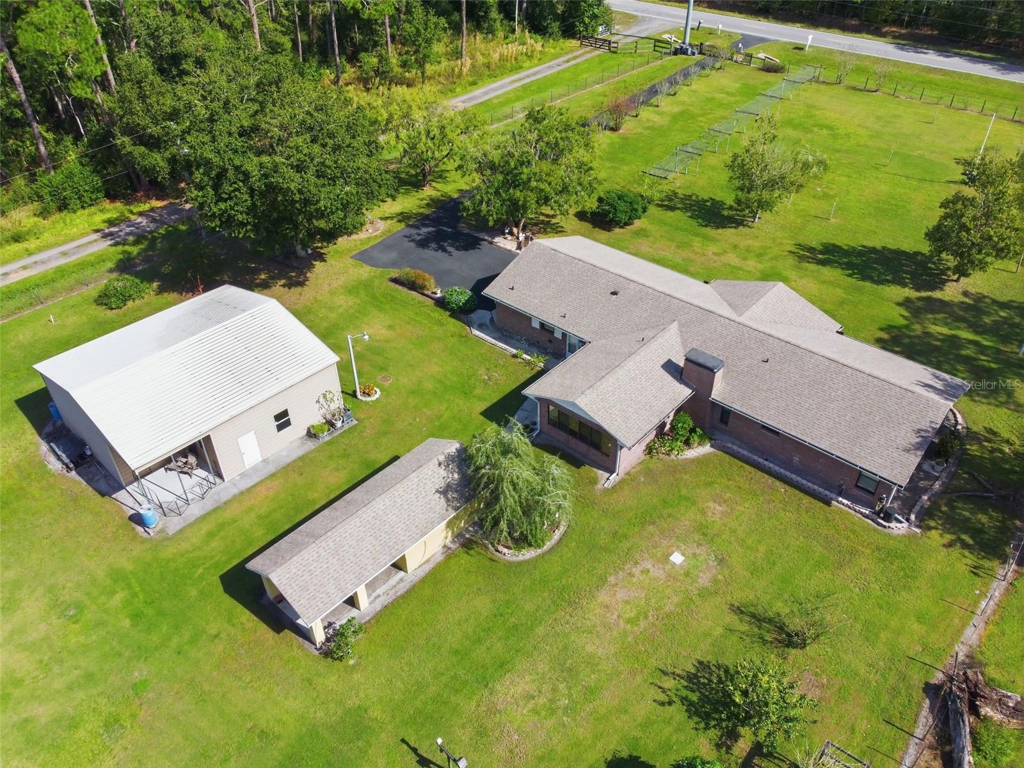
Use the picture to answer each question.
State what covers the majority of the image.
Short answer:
grass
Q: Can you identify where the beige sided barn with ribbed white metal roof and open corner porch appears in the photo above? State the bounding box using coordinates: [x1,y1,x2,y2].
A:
[30,282,348,515]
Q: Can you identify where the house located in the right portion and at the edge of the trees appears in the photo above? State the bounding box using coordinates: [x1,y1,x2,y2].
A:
[481,236,971,516]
